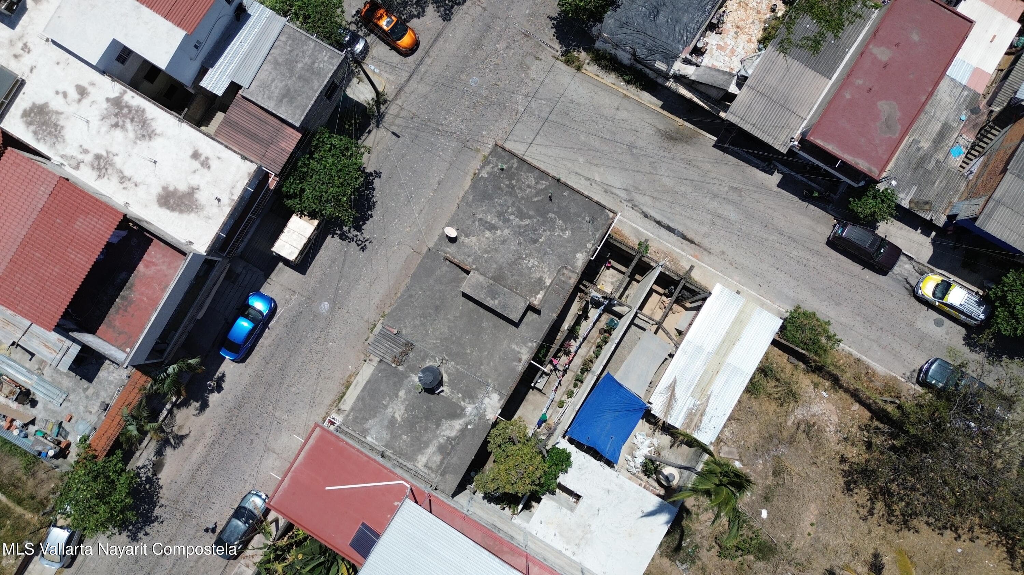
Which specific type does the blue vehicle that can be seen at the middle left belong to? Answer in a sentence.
The blue vehicle that can be seen at the middle left in the image is an automobile.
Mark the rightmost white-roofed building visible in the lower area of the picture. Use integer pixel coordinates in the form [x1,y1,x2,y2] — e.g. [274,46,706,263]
[647,284,782,443]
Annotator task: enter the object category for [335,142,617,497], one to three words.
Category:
building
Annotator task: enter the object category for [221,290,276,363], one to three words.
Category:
car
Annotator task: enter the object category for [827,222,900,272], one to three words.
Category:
car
